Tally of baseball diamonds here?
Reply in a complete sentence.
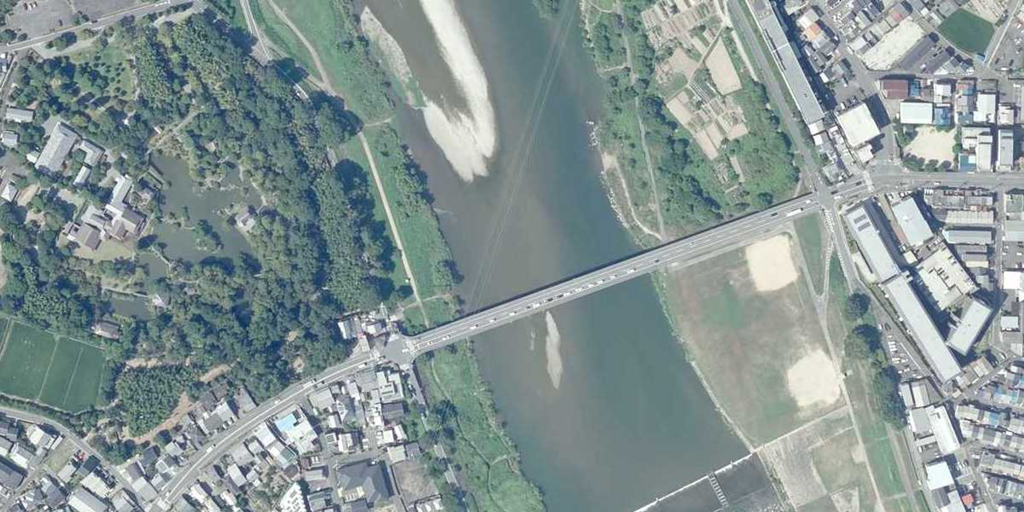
The number of baseball diamonds here is 2.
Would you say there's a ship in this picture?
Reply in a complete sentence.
No, there appears to be no ship in this shot.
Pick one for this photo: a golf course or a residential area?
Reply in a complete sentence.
This image shows a residential area.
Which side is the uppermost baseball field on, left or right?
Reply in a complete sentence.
It is on the right.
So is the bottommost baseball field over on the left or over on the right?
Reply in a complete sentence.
The bottommost baseball field appears in the right half of the scene.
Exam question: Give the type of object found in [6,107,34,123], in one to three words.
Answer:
house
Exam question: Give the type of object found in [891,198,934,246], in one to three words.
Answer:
building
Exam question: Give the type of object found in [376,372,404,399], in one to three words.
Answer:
building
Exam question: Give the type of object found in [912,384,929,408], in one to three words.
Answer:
shed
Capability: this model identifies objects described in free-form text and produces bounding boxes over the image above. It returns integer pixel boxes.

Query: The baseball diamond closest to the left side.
[744,236,794,290]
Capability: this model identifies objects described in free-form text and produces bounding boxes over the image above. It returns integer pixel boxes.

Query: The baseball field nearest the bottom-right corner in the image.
[786,348,841,407]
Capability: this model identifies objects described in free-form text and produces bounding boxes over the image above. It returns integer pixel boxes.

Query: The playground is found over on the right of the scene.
[902,126,957,163]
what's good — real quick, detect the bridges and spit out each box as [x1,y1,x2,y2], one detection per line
[408,189,824,358]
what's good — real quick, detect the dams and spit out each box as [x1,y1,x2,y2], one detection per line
[635,453,753,512]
